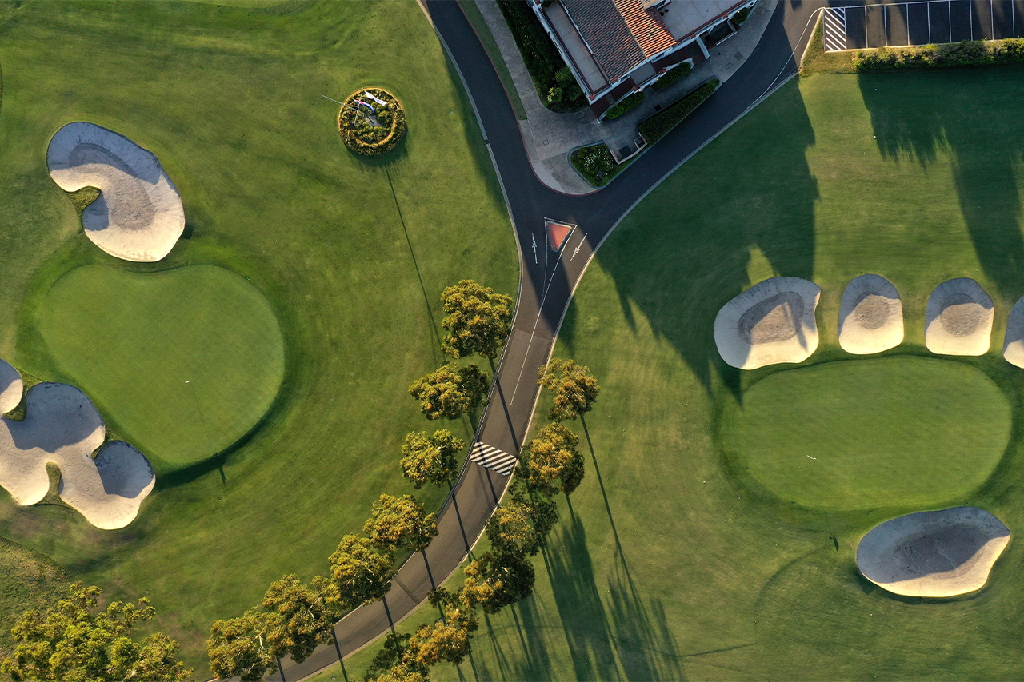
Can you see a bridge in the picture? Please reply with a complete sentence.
No, the picture doesn't show any bridge.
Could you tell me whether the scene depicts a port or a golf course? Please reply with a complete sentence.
The picture captures a golf course.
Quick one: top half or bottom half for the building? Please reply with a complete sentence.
You can find the building in the top half.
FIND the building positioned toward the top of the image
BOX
[528,0,760,122]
